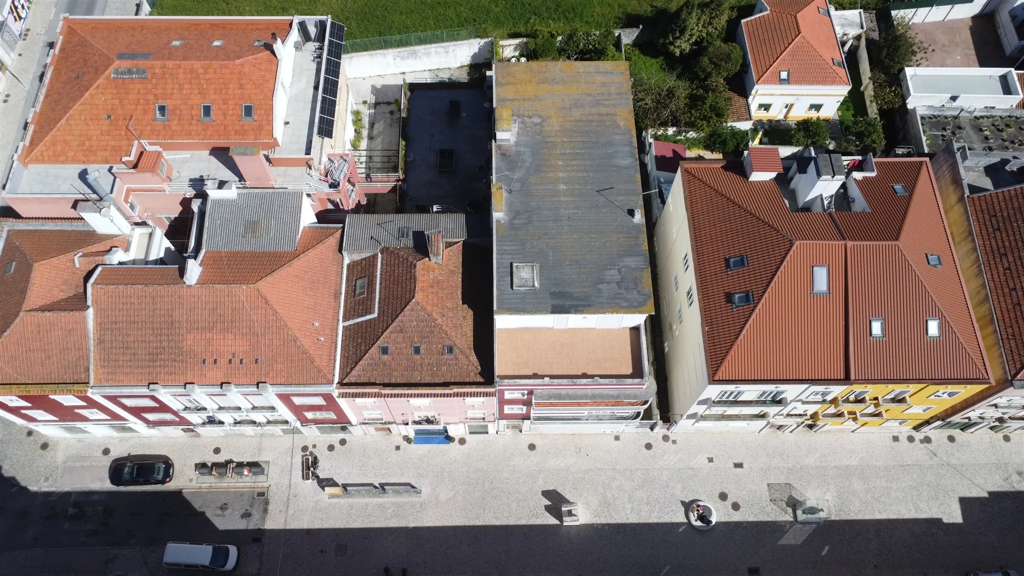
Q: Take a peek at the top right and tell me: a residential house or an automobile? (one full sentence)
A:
The one visible at the top right is a residential house.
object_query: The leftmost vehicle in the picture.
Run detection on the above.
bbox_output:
[103,455,173,488]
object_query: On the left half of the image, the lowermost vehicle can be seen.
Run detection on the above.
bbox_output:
[153,539,239,576]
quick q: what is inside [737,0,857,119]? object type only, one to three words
house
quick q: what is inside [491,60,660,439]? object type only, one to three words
building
